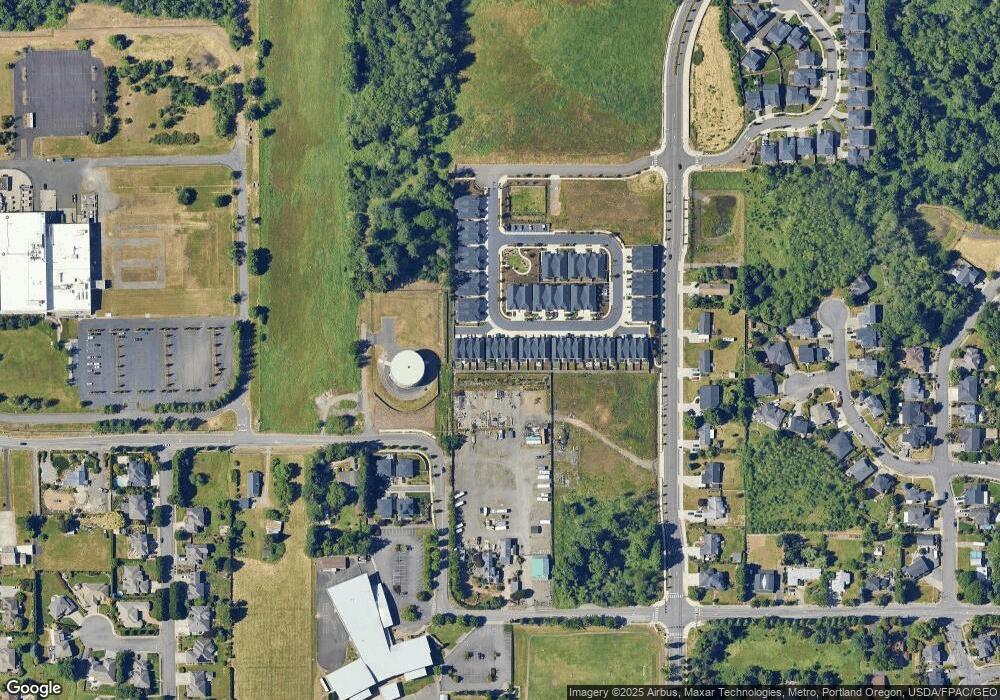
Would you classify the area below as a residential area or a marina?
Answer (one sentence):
This image shows a residential area.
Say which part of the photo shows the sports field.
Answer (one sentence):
You can find the sports field in the bottom area of the picture.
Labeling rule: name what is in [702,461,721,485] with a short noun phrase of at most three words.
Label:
house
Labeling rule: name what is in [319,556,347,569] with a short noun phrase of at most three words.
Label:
shed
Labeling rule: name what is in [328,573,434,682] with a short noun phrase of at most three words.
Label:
building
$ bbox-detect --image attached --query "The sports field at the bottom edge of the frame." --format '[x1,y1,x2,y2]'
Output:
[516,625,662,700]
